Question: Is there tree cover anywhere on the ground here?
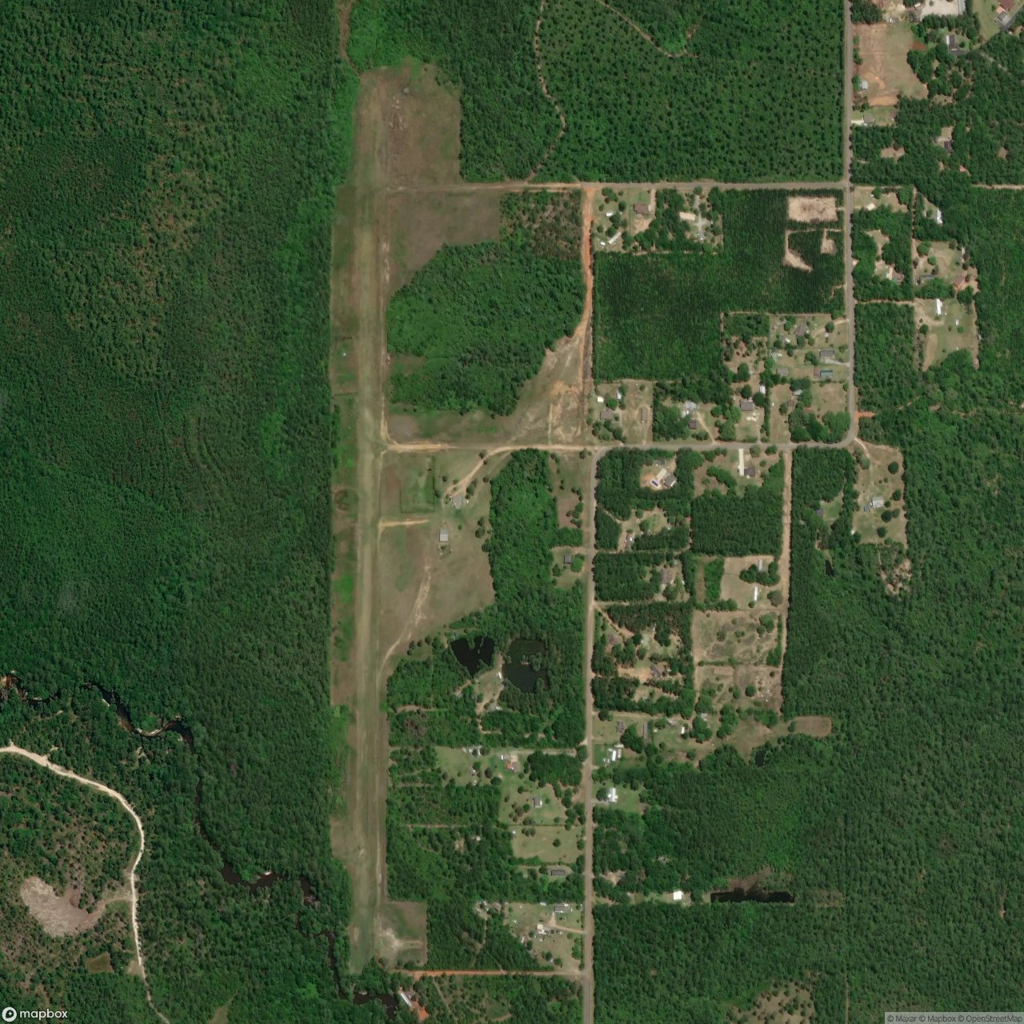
Yes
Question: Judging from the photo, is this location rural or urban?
rural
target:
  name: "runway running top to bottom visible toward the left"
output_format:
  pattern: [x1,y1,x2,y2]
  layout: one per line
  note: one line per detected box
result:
[328,58,490,972]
